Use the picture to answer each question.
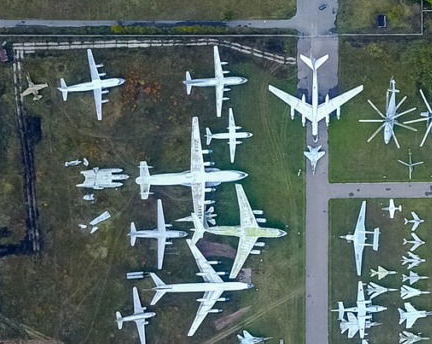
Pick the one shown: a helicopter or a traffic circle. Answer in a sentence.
It is a helicopter that can be seen here.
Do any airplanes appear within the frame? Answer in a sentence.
Yes, the frame does contain an airplane.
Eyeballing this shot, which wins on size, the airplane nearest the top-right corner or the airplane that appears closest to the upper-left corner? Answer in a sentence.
Of the two, the airplane nearest the top-right corner is bigger, while the airplane that appears closest to the upper-left corner is smaller.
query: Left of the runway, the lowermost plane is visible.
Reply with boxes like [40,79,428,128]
[235,329,272,344]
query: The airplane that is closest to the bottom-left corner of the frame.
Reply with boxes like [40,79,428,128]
[115,287,156,344]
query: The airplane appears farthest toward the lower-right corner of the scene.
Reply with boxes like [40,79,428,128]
[400,332,430,344]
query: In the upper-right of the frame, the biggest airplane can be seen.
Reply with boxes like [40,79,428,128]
[269,50,359,138]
